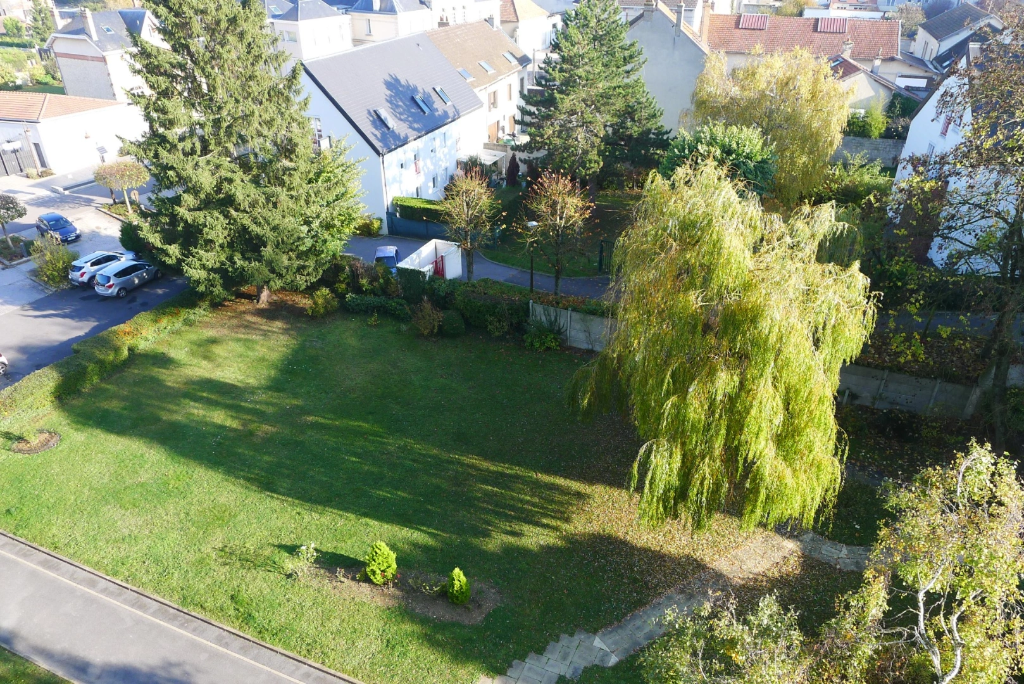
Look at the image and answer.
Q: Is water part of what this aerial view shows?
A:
No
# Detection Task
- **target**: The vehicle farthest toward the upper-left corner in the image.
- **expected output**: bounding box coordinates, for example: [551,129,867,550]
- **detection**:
[33,206,88,243]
